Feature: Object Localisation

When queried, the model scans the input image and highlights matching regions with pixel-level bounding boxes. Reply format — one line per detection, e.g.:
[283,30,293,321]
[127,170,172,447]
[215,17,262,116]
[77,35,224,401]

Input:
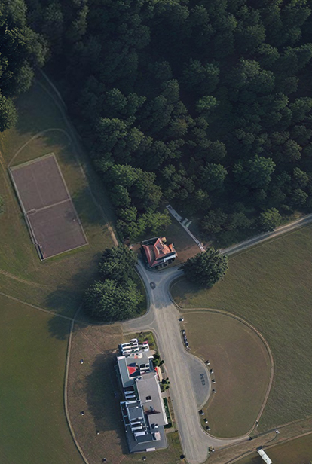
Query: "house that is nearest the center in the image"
[141,236,177,270]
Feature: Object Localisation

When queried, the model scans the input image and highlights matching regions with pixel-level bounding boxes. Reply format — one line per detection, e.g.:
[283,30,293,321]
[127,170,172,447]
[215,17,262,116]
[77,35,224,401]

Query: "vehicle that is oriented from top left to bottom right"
[257,448,272,464]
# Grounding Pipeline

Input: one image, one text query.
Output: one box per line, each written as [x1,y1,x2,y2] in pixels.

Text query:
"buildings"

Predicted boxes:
[141,236,177,270]
[114,350,170,453]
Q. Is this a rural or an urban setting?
rural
